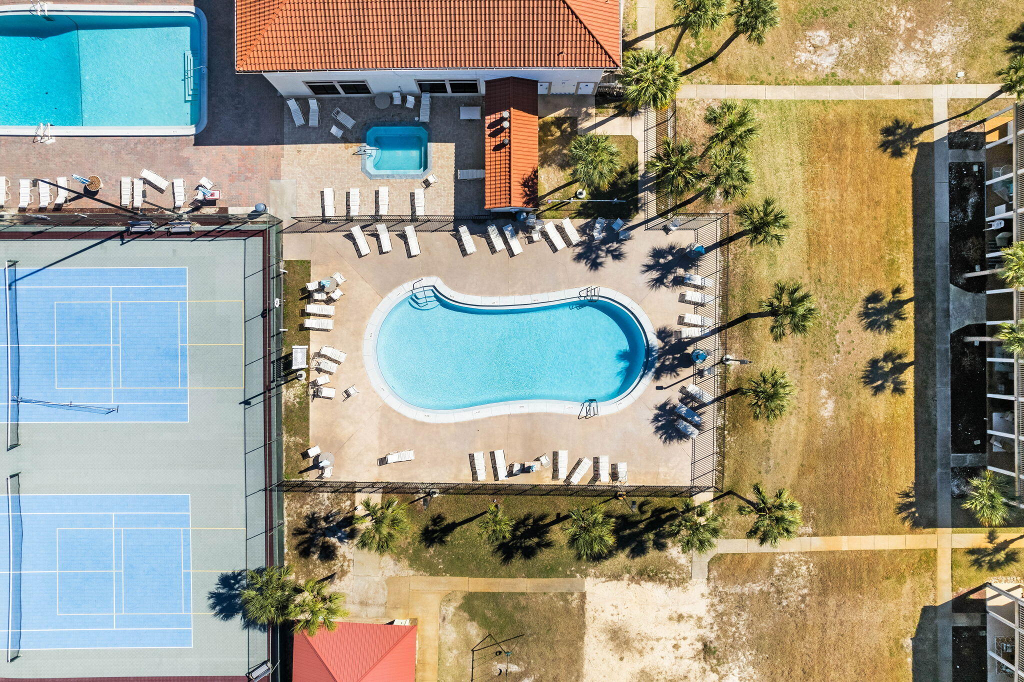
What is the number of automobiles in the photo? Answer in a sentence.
Not a single automobile can be seen.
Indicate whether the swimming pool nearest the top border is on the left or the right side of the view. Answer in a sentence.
You can find the swimming pool nearest the top border on the left side of the picture.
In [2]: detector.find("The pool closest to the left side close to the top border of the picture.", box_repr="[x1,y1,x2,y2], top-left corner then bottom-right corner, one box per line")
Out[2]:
[0,0,207,136]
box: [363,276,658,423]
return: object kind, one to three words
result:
swimming pool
